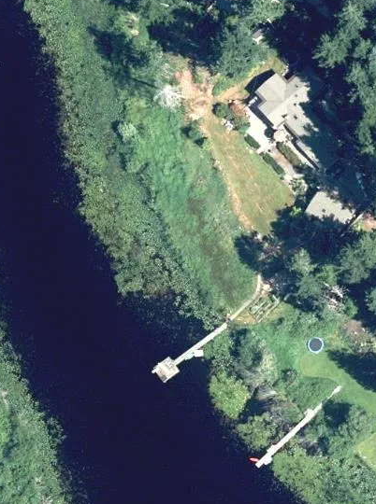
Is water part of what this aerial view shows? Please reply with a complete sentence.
Yes, water shows up in the scene.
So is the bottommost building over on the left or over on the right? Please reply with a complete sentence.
It is on the right.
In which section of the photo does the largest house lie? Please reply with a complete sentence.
The largest house is in the top right part of the image.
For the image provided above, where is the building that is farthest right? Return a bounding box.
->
[304,191,361,224]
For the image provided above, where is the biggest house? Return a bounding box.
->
[255,73,337,166]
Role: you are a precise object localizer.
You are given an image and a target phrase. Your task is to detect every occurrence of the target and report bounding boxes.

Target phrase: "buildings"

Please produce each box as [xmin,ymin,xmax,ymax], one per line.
[304,191,361,224]
[255,73,337,166]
